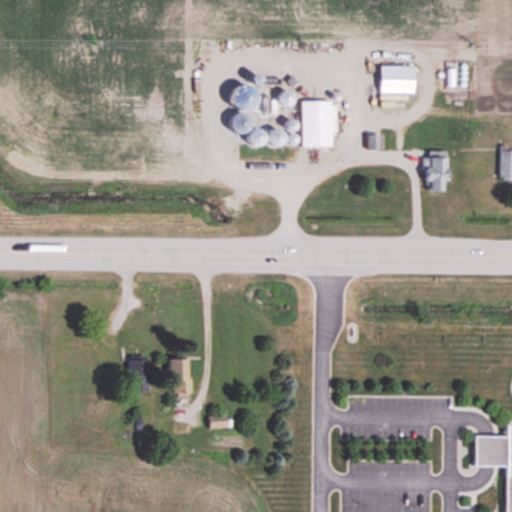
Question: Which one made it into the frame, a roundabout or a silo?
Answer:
silo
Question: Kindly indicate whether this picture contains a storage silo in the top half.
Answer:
Yes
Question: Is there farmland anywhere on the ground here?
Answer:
Yes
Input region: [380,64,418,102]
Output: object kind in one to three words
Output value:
barn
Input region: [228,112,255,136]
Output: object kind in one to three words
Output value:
silo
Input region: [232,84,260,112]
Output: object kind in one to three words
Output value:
silo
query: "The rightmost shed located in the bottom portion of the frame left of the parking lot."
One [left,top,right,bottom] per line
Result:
[208,416,234,430]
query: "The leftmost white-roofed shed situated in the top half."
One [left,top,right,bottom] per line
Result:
[300,100,334,148]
